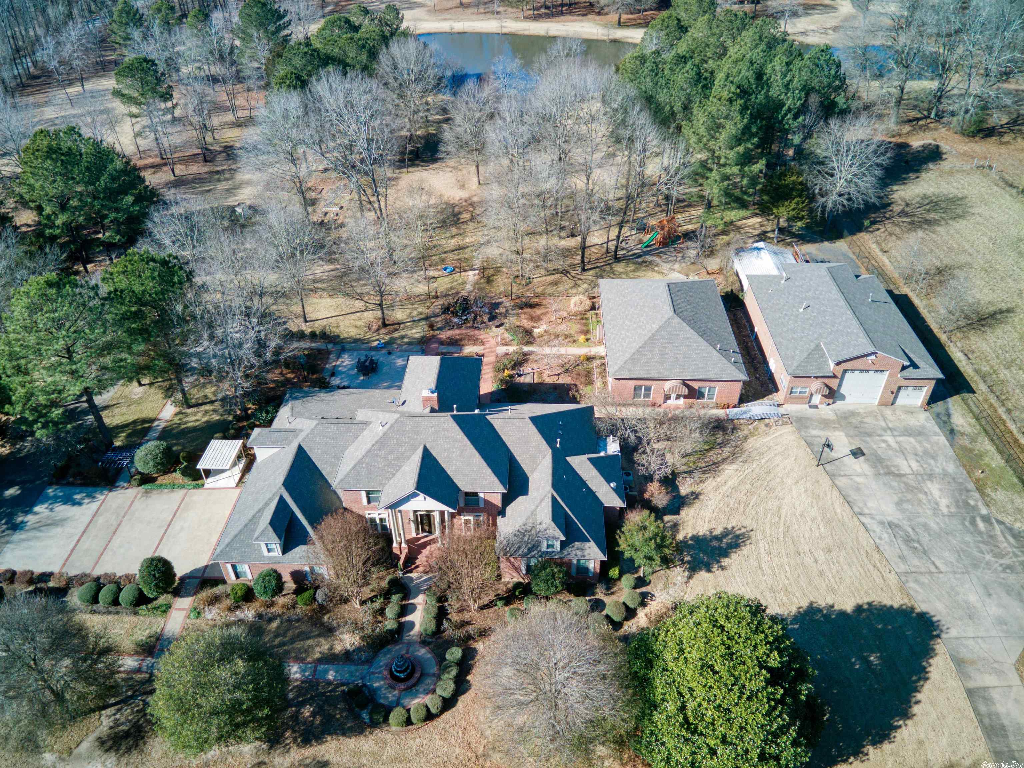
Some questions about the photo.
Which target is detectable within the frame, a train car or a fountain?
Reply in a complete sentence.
Visible in the photo is a fountain.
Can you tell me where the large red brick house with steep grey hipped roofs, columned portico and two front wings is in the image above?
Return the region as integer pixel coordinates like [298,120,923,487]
[211,355,626,586]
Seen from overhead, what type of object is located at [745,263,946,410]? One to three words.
building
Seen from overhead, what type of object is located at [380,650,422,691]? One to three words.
fountain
